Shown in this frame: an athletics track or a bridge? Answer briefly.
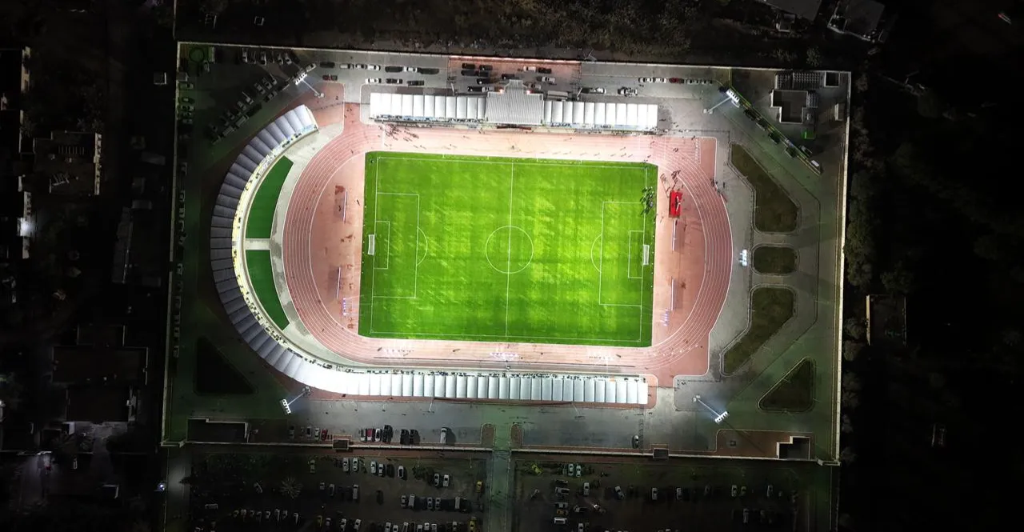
athletics track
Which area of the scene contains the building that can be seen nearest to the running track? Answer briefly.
top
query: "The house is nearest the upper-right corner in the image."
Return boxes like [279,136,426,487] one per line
[824,0,883,40]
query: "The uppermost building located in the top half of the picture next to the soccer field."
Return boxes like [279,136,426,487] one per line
[485,80,543,132]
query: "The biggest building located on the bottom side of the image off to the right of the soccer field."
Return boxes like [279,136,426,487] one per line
[863,294,905,346]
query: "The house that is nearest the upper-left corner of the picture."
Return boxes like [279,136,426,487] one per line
[0,49,40,110]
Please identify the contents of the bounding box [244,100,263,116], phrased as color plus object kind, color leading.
black vehicle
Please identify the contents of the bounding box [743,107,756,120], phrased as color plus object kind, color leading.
black vehicle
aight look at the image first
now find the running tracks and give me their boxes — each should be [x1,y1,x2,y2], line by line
[282,120,734,390]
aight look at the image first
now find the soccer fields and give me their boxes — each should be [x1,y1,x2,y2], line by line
[358,151,658,347]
